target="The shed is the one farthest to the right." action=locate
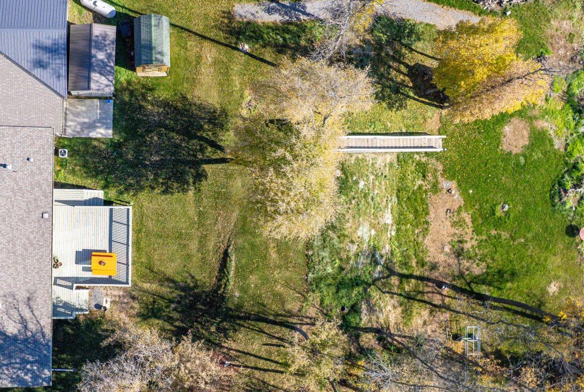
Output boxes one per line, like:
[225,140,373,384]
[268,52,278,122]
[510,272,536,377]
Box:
[133,14,170,77]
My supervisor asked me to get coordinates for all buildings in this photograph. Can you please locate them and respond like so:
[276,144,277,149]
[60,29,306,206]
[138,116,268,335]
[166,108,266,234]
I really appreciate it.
[70,23,115,97]
[133,14,170,77]
[0,49,76,388]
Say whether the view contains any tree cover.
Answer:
Yes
